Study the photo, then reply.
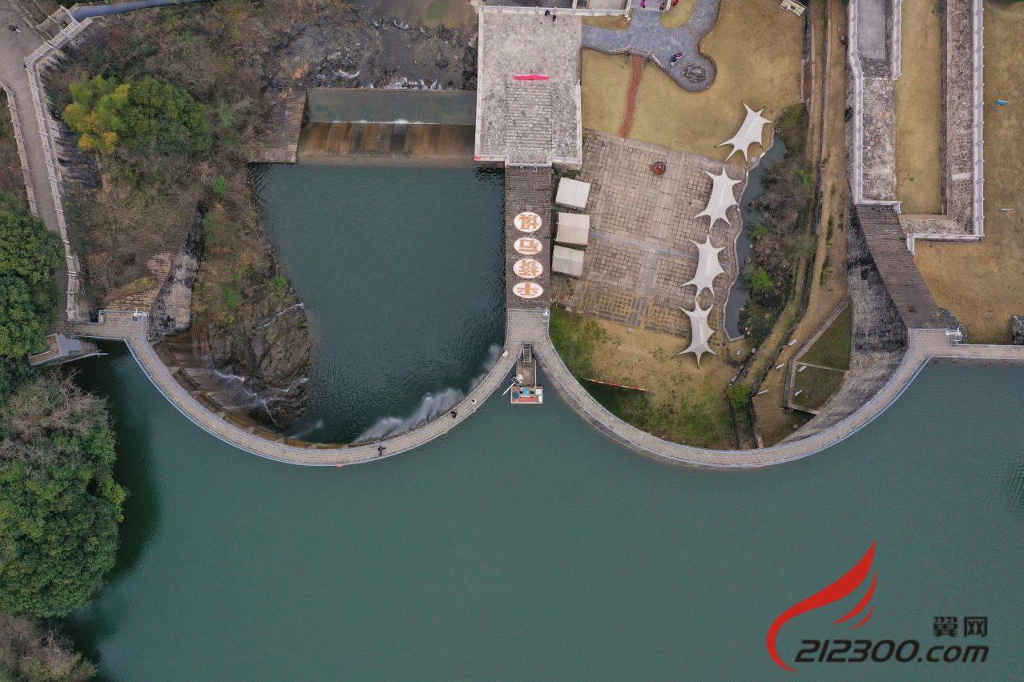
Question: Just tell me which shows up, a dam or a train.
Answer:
dam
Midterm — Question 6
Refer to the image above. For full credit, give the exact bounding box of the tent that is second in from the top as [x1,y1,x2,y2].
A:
[556,212,590,246]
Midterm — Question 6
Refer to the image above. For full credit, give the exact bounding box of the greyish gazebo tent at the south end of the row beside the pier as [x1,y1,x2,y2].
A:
[552,245,584,278]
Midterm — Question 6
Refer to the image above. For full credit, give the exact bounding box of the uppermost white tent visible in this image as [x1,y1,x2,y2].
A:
[555,177,590,210]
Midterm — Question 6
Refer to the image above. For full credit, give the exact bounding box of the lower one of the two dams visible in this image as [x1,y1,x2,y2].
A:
[66,166,1024,469]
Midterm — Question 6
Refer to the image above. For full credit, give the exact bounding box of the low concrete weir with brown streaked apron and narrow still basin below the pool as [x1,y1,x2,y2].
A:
[250,84,477,165]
